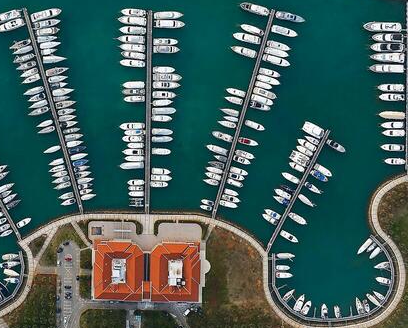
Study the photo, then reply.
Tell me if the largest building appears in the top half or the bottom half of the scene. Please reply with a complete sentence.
You can find the largest building in the bottom half.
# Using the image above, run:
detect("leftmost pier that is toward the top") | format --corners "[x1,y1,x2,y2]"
[22,8,84,214]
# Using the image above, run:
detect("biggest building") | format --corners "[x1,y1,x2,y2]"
[93,238,200,301]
